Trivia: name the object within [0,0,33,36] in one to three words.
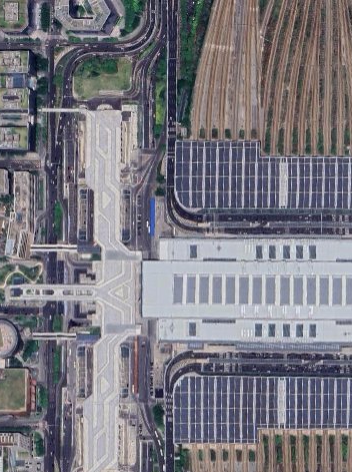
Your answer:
building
